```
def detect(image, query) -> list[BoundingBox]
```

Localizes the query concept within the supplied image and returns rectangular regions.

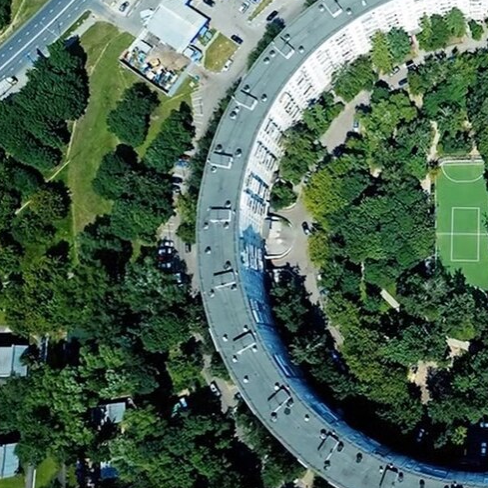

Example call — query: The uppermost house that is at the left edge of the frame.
[0,345,36,376]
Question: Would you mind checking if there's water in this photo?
No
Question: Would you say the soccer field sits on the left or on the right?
right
